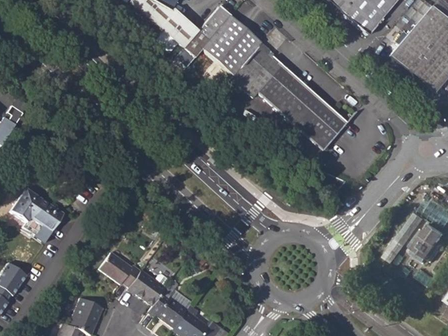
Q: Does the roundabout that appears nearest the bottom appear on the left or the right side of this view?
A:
right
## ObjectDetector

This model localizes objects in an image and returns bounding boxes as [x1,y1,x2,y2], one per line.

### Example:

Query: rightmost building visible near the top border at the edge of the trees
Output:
[387,6,448,92]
